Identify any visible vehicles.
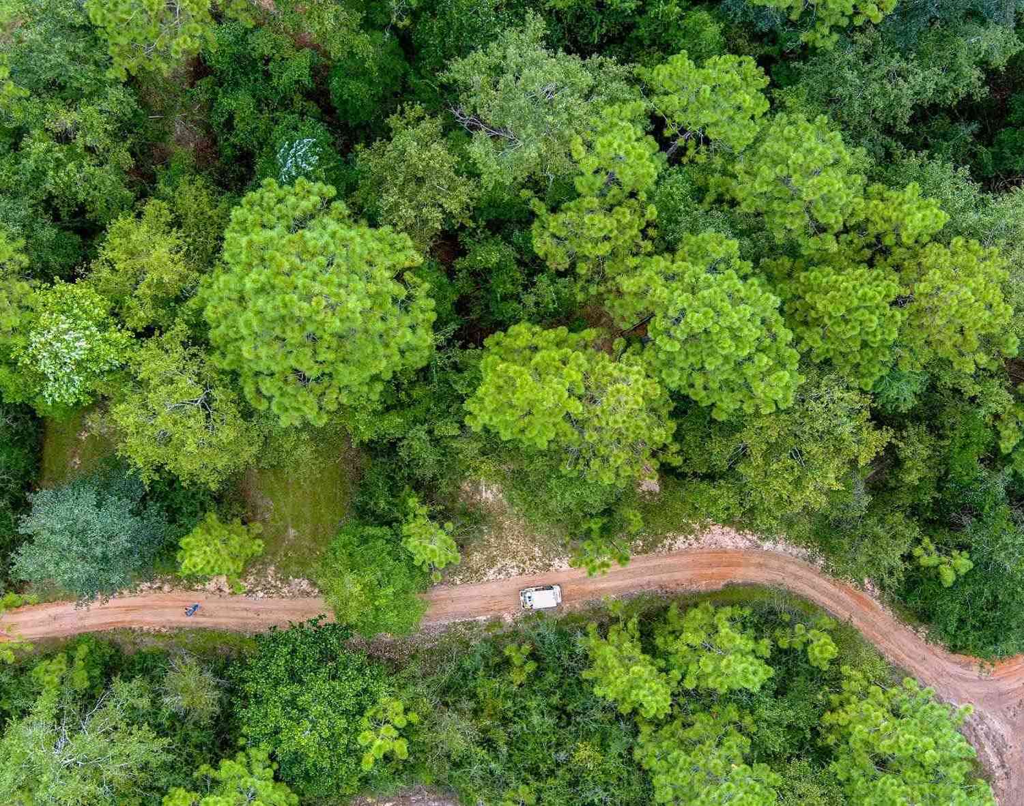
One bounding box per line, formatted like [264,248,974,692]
[520,582,561,609]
